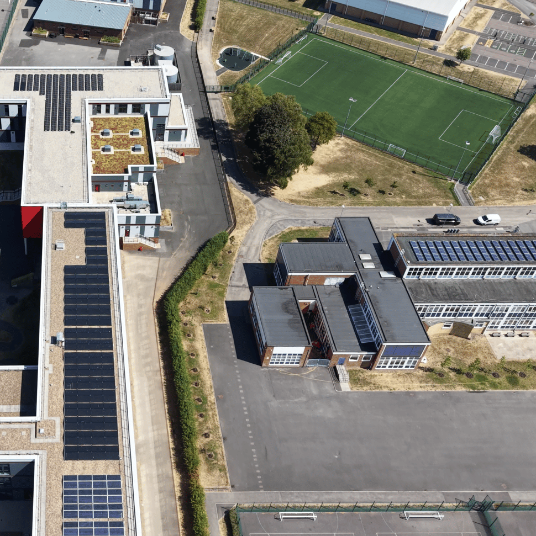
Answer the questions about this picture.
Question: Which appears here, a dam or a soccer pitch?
soccer pitch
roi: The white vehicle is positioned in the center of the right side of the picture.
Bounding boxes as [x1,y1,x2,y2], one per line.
[477,212,506,226]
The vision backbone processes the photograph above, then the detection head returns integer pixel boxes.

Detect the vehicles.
[477,212,506,226]
[433,212,464,227]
